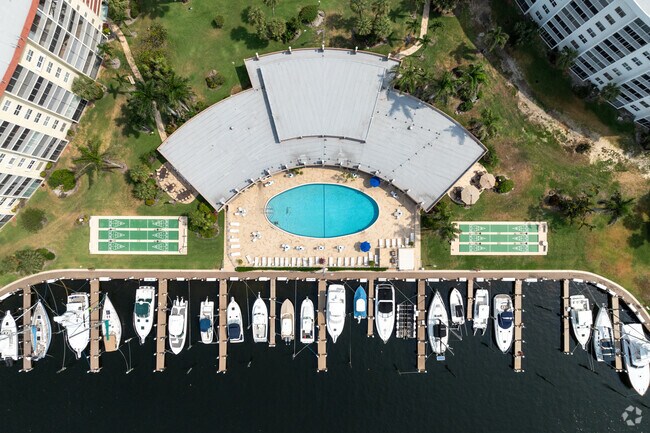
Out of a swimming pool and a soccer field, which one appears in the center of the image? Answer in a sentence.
You can see a swimming pool in the center of the image.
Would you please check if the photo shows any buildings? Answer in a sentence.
Yes, there is a building in the image.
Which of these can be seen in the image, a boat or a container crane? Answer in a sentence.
This aerial view contains a boat.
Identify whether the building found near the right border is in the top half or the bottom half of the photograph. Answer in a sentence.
The top half of the photo is where the building found near the right border is.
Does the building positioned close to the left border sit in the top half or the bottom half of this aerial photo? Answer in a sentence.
Seen from above, the building positioned close to the left border lies in the top half of the view.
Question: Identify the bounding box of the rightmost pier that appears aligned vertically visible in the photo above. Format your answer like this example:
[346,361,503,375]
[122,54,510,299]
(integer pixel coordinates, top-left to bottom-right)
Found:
[608,295,627,371]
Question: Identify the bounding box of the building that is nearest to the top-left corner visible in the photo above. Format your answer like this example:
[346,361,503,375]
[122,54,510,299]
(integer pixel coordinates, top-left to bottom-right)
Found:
[0,0,114,231]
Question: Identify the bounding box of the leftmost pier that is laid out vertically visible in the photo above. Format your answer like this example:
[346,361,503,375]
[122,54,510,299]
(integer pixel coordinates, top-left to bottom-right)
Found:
[17,284,37,371]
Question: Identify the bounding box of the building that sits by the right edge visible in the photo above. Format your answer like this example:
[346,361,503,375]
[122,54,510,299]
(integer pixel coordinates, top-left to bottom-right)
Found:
[515,0,650,130]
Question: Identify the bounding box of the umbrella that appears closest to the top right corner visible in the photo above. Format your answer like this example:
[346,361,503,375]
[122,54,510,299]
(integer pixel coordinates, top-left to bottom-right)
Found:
[480,174,495,189]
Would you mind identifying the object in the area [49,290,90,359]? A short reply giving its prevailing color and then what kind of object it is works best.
white boat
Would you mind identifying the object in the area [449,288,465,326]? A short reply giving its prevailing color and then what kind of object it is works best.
white boat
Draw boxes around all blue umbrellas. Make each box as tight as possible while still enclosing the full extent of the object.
[370,177,381,187]
[360,241,371,252]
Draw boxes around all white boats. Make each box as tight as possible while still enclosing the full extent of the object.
[326,283,347,343]
[251,293,269,343]
[472,289,490,333]
[300,296,316,343]
[449,288,465,326]
[0,312,22,363]
[49,290,90,359]
[225,297,244,344]
[77,294,123,350]
[569,293,592,350]
[199,298,216,343]
[490,291,514,354]
[279,299,295,344]
[167,297,190,355]
[374,283,396,342]
[0,303,53,359]
[425,290,458,359]
[620,318,650,397]
[133,283,157,345]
